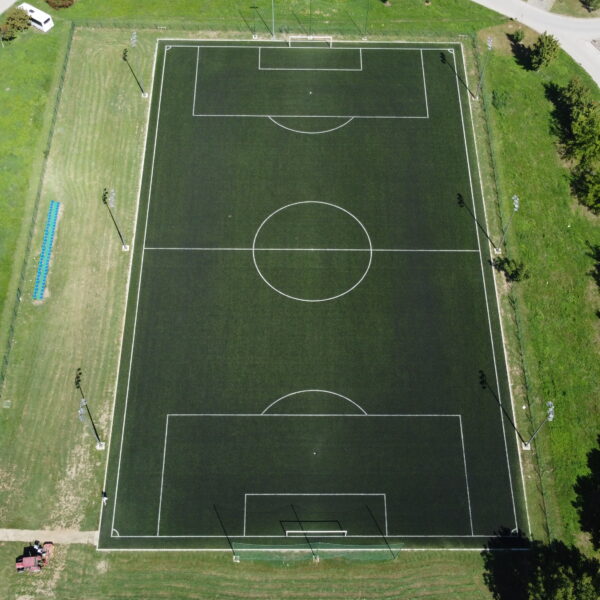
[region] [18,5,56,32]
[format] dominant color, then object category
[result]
white vehicle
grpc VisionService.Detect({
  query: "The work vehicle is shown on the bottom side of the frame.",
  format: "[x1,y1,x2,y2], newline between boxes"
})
[14,543,54,574]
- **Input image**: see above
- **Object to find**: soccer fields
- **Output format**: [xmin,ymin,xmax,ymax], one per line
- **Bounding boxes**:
[96,39,534,551]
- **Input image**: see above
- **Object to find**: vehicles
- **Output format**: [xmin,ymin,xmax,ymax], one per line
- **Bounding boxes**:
[14,543,54,574]
[18,5,56,32]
